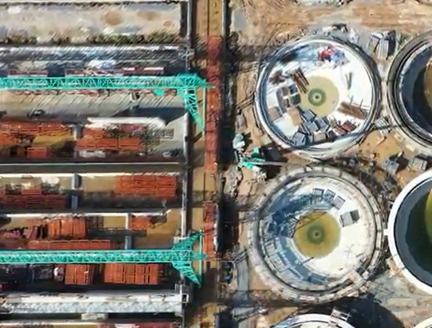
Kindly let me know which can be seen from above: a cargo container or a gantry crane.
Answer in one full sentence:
There is a gantry crane in the scene.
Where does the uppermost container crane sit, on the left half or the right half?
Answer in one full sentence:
It is on the left.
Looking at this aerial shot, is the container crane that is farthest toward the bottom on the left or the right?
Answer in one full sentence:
The container crane that is farthest toward the bottom is on the left side of the image.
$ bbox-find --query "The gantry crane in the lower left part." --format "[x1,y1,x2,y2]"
[0,228,208,285]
